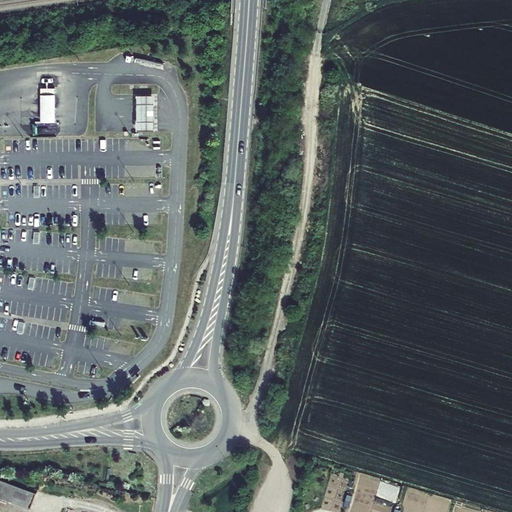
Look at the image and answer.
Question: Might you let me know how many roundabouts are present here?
one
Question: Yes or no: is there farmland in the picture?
Yes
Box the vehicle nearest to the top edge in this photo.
[124,56,162,70]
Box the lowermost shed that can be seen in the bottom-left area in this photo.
[0,482,34,510]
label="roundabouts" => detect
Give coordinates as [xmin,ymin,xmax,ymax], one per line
[143,370,240,466]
